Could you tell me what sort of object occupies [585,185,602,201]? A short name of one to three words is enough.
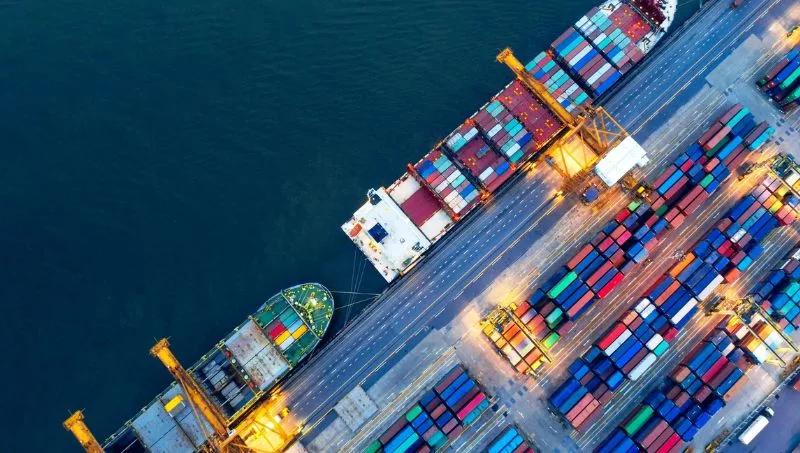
vehicle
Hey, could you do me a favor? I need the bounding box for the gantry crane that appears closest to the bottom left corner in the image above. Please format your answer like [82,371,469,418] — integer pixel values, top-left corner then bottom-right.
[52,416,97,453]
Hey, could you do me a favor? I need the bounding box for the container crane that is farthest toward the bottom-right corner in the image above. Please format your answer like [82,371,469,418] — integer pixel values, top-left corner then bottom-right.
[706,298,800,369]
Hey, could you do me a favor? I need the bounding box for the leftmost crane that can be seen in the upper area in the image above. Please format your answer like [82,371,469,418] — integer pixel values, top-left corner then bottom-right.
[492,41,654,207]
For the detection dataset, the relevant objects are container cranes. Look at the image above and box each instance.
[738,151,800,198]
[480,304,553,378]
[52,416,97,453]
[143,340,311,453]
[706,298,800,369]
[492,41,654,207]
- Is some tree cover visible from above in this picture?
No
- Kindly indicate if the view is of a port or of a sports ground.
port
